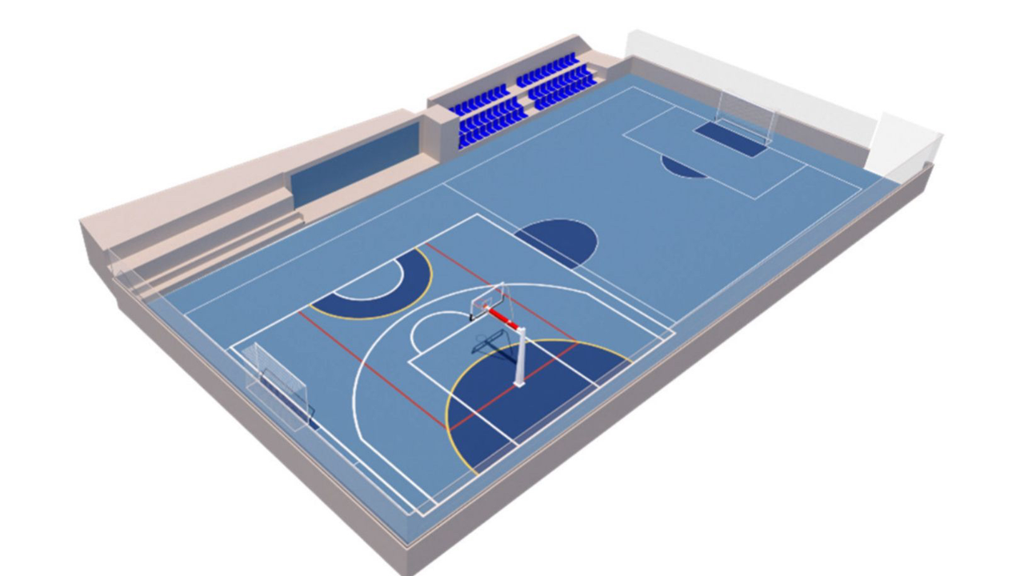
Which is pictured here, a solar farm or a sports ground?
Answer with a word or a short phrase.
sports ground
